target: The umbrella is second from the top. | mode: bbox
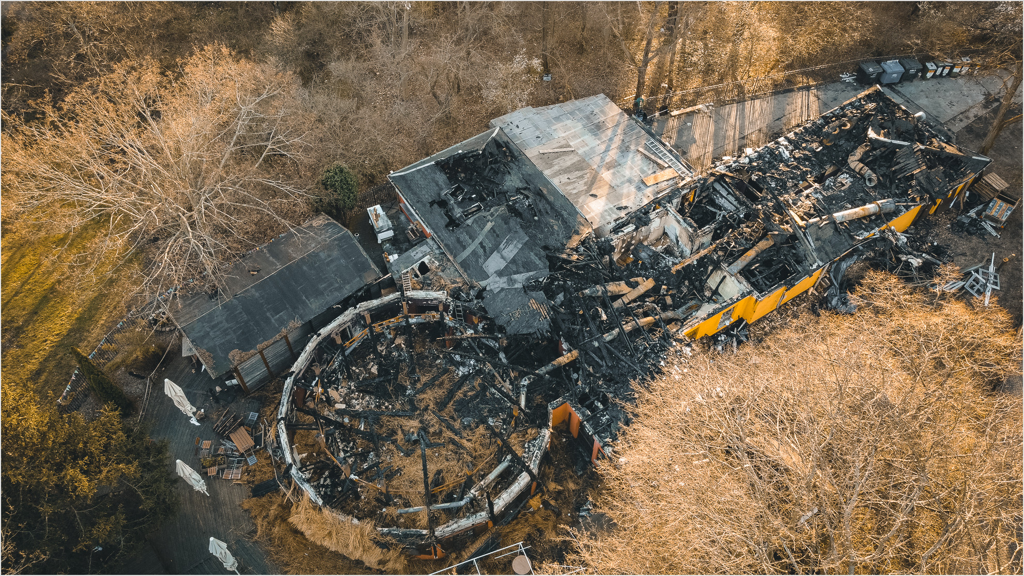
[176,456,215,502]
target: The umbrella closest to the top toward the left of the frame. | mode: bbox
[166,380,203,429]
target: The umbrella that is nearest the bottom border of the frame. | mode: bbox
[206,545,244,576]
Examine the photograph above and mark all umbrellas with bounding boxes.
[206,545,244,576]
[166,380,203,429]
[176,456,215,502]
